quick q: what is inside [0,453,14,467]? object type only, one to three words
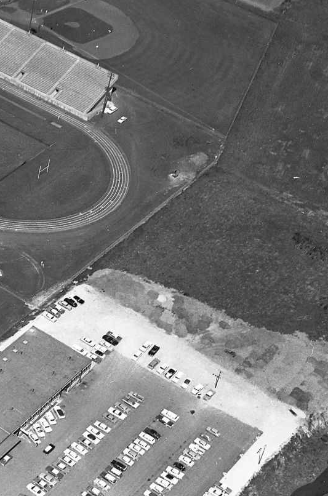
vehicle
